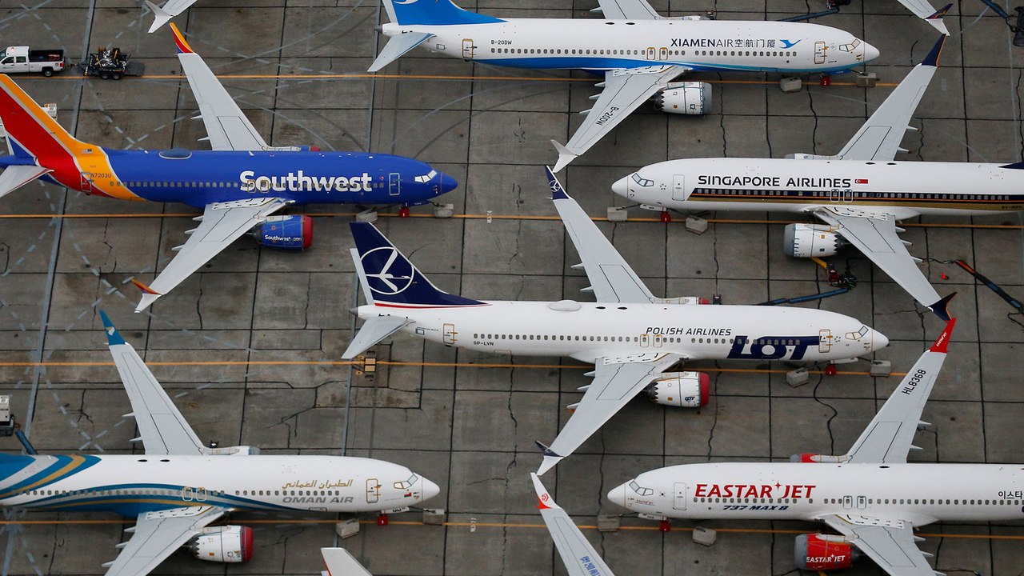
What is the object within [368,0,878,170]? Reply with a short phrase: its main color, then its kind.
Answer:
white airplane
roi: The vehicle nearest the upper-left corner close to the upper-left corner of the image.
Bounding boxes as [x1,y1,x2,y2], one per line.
[0,45,68,77]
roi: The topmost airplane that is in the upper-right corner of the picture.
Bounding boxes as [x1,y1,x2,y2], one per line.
[902,0,953,35]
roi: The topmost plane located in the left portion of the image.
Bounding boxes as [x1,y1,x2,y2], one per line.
[148,0,191,28]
